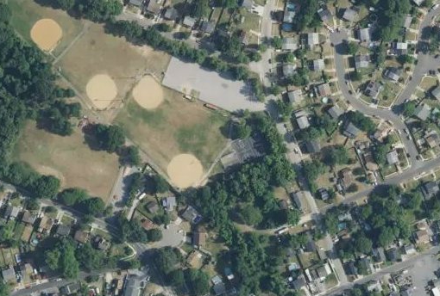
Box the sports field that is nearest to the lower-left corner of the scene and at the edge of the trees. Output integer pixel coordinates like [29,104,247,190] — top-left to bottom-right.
[17,127,118,199]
